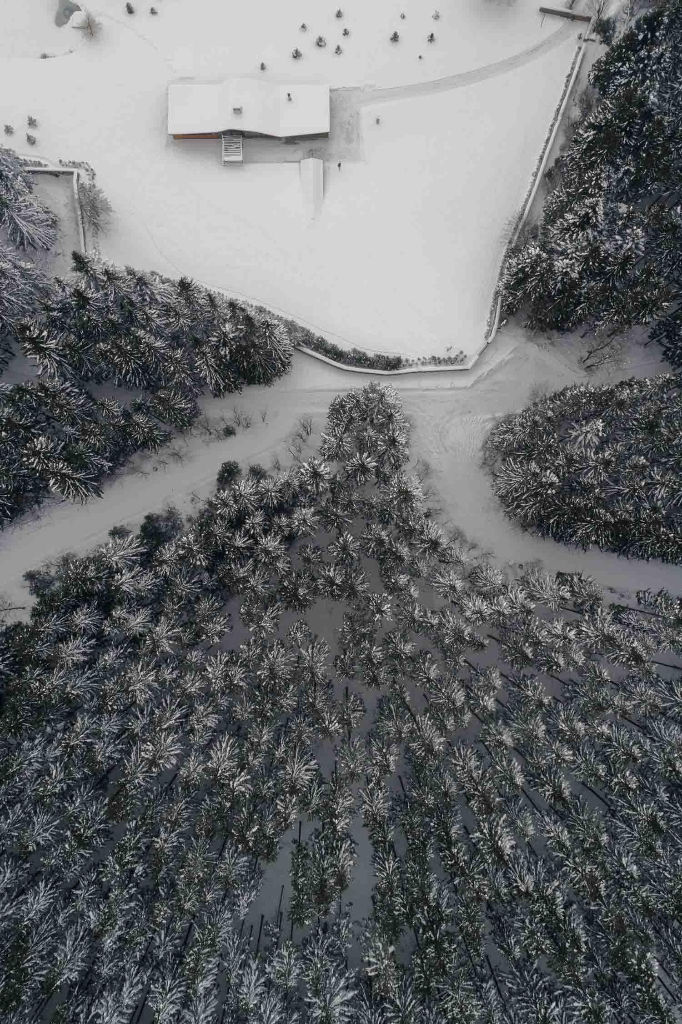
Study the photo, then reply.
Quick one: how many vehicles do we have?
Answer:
zero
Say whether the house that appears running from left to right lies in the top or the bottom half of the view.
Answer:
top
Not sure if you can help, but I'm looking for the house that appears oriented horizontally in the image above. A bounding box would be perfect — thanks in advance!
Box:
[168,79,330,139]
